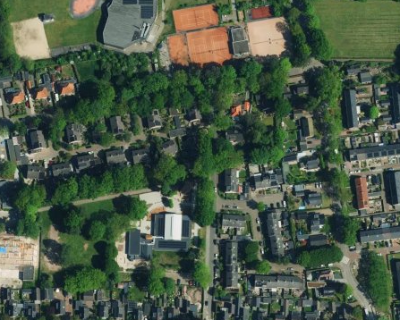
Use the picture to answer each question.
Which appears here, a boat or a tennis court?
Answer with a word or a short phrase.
tennis court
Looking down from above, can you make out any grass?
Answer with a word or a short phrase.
Yes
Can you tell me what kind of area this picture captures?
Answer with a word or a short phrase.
residential area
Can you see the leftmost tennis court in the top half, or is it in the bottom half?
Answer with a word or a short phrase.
top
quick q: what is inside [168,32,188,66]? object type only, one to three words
tennis court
